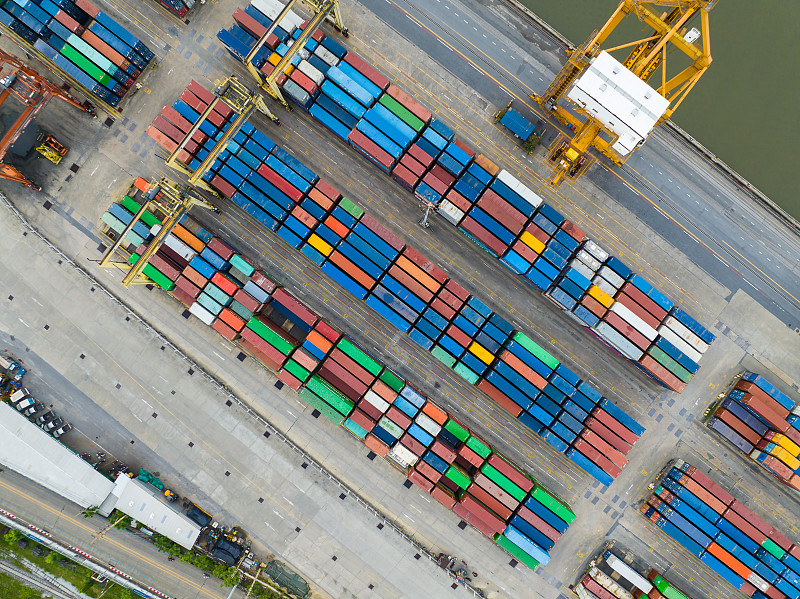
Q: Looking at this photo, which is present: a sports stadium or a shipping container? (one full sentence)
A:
Of the two, only a shipping container appears.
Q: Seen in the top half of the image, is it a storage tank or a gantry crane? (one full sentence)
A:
The feature located in the top half of the image is a gantry crane.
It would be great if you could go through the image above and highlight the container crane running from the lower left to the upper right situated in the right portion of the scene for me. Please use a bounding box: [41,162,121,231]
[529,0,723,194]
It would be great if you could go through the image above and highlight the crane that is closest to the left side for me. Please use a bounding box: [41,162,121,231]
[0,59,102,197]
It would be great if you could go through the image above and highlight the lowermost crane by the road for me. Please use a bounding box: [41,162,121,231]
[96,173,223,291]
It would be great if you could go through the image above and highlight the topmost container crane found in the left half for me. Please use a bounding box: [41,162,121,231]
[242,0,352,113]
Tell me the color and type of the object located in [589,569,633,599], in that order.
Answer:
white shipping container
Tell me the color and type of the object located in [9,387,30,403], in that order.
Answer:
white vehicle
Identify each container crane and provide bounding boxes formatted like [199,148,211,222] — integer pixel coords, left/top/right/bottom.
[163,66,284,202]
[0,59,102,197]
[242,0,352,113]
[96,173,223,291]
[529,0,723,194]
